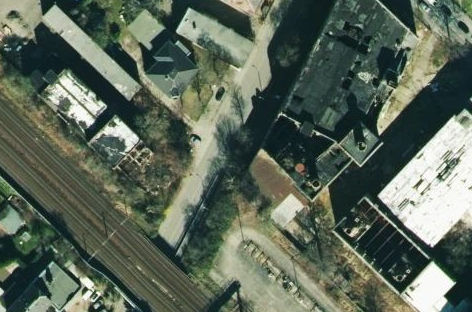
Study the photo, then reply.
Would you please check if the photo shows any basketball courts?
No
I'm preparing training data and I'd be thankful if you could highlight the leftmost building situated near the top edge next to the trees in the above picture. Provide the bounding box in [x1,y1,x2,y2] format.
[42,4,140,101]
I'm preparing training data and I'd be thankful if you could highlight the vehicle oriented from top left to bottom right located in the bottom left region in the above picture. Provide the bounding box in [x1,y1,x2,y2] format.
[77,275,96,289]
